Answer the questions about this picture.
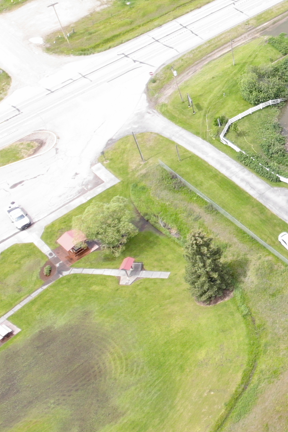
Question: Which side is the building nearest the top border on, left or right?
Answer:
left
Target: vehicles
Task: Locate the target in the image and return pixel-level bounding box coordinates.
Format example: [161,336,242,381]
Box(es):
[0,200,29,228]
[274,227,288,249]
